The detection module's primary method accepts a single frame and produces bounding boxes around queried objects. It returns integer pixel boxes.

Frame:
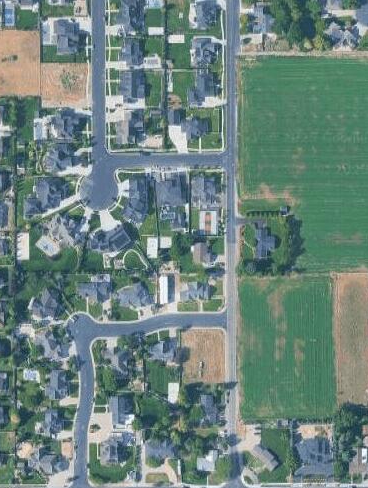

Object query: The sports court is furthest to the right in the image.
[200,211,218,235]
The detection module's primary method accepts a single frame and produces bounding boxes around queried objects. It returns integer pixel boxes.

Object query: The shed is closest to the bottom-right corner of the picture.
[349,448,368,474]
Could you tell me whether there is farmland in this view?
Yes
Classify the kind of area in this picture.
residential area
